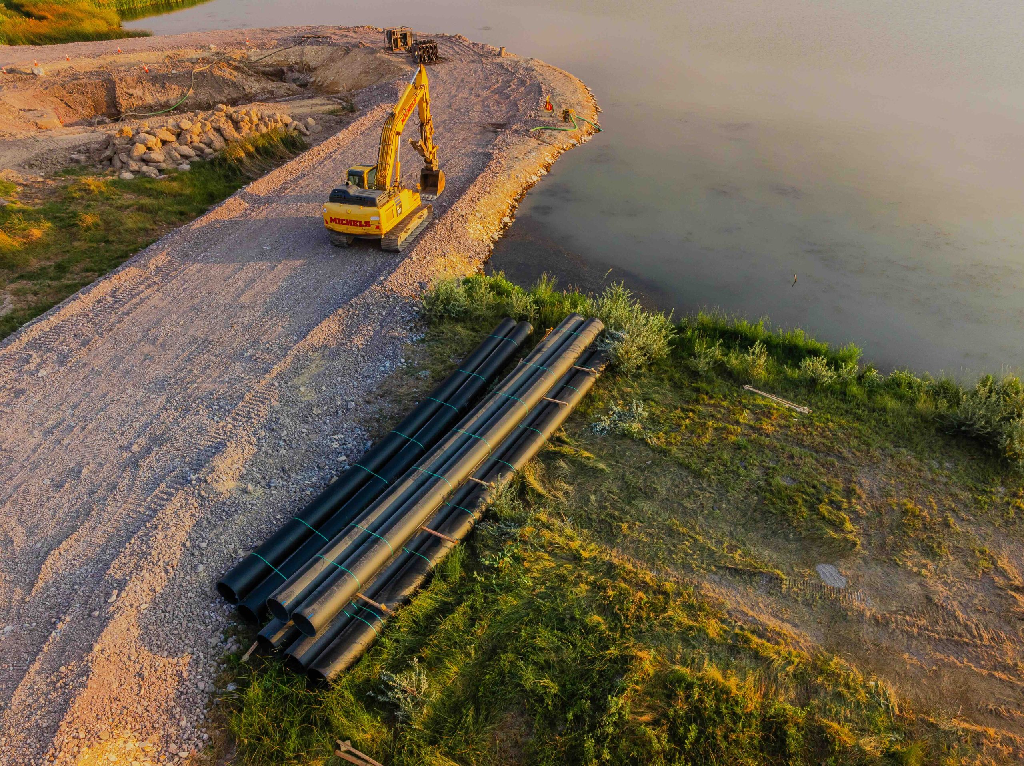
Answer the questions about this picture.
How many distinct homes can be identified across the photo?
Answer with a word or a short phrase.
zero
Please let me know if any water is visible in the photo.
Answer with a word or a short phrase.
Yes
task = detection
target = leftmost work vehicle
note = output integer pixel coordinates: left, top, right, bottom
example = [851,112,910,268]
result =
[321,62,446,251]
